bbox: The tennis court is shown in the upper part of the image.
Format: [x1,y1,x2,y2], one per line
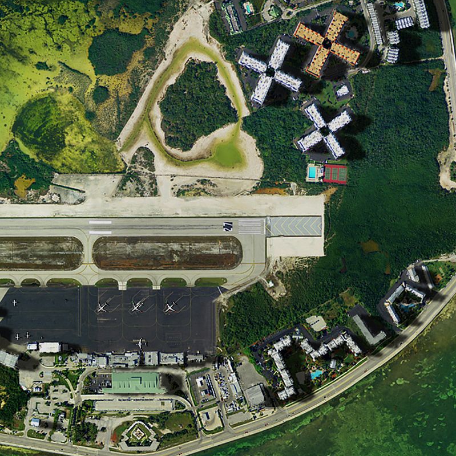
[323,164,347,185]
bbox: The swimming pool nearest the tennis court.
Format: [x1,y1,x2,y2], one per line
[306,164,322,182]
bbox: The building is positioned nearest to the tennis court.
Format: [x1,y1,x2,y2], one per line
[300,104,353,157]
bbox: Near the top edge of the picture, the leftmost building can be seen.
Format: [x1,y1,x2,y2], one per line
[225,3,244,34]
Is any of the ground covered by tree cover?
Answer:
Yes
